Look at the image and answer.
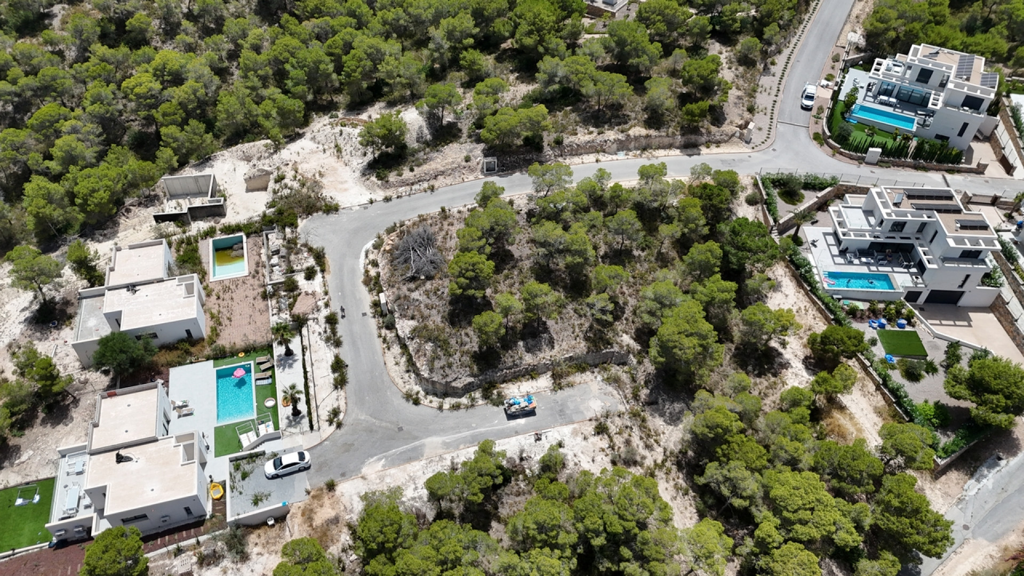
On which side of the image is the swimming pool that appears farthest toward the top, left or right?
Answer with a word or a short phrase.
right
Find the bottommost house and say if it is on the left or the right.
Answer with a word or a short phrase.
left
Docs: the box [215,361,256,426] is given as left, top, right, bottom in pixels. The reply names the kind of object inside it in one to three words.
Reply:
swimming pool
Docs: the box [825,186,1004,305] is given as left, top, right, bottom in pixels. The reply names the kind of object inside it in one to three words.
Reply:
house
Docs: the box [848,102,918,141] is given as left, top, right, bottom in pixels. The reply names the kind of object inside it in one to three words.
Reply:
swimming pool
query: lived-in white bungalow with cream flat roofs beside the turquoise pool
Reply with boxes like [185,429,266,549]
[44,380,211,555]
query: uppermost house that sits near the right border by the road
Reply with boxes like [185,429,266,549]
[865,43,1002,152]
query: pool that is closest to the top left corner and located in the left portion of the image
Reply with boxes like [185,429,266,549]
[209,232,248,281]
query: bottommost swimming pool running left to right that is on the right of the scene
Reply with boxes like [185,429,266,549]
[818,268,903,304]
